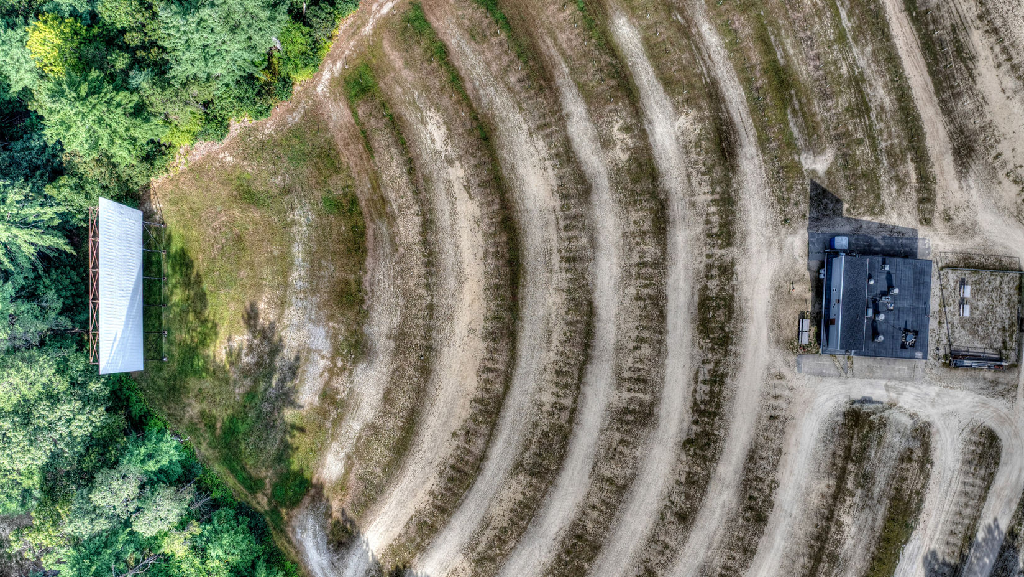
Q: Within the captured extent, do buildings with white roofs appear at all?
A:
No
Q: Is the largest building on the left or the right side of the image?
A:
right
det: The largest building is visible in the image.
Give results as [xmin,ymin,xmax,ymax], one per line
[816,250,932,359]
